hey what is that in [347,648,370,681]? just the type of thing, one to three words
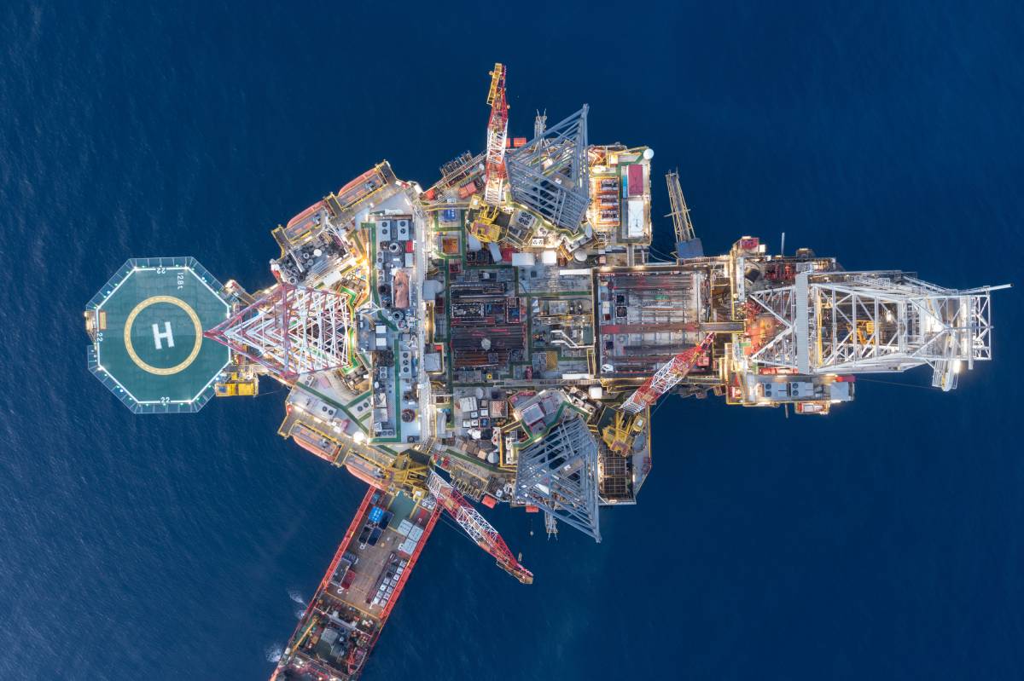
boat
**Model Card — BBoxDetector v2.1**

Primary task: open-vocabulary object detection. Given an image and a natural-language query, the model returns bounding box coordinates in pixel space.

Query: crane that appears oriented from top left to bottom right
[387,448,534,585]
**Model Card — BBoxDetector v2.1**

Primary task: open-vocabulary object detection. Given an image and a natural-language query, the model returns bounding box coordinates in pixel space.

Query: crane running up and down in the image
[467,61,512,245]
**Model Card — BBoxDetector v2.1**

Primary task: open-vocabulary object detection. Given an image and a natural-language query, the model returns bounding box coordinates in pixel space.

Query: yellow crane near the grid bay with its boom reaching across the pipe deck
[597,329,718,455]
